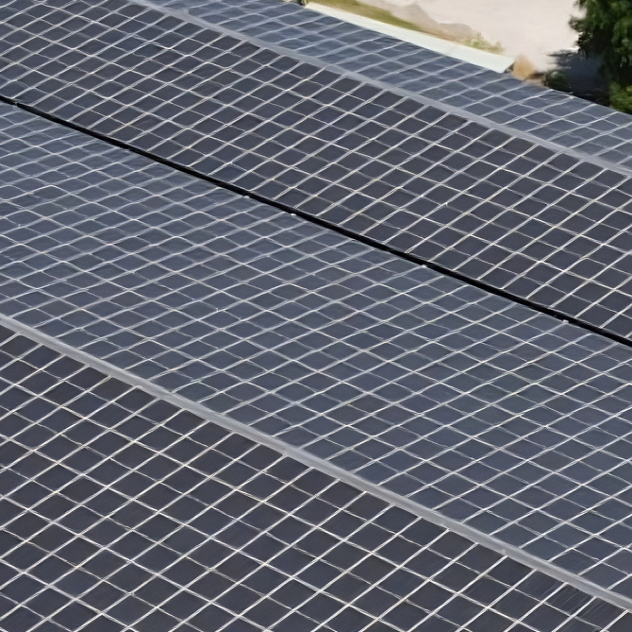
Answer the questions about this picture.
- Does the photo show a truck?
No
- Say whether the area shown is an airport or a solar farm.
solar farm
